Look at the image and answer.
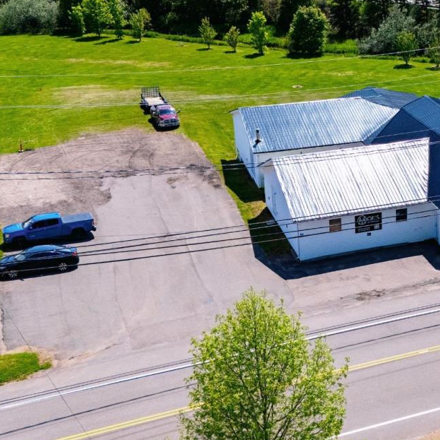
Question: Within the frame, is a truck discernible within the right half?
No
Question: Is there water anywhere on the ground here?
No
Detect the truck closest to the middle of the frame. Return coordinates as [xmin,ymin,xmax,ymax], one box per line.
[149,100,178,128]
